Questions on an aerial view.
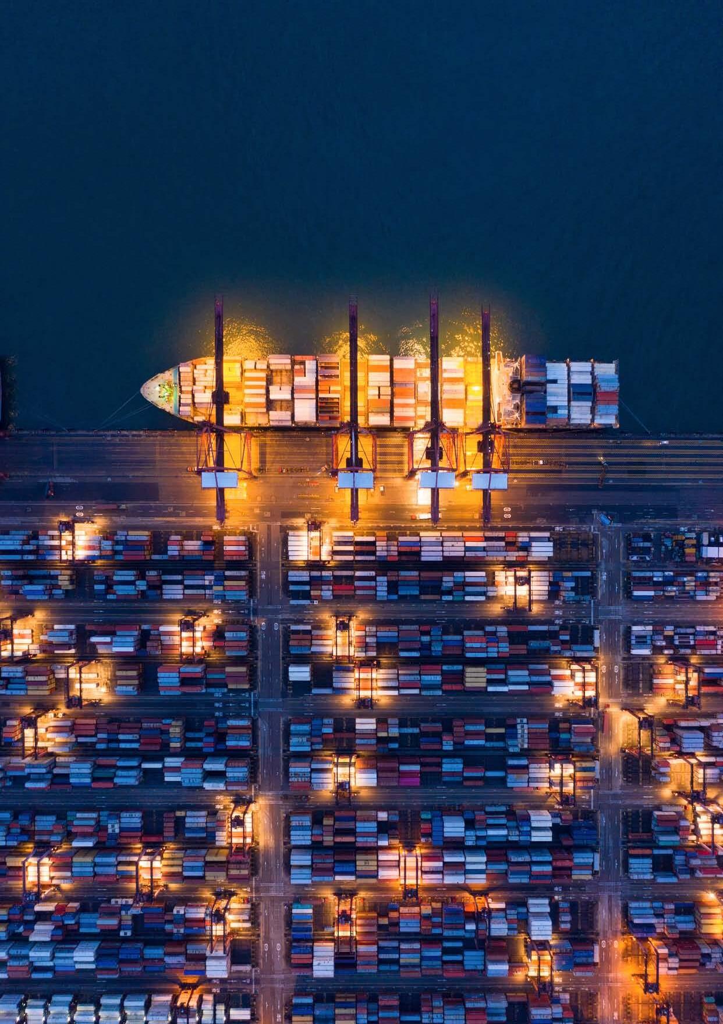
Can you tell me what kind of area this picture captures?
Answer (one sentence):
The picture captures a port.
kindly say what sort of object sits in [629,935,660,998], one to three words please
container crane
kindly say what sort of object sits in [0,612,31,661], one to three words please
container crane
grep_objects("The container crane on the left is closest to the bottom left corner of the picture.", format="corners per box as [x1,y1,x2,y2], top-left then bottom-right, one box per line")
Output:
[23,843,55,903]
